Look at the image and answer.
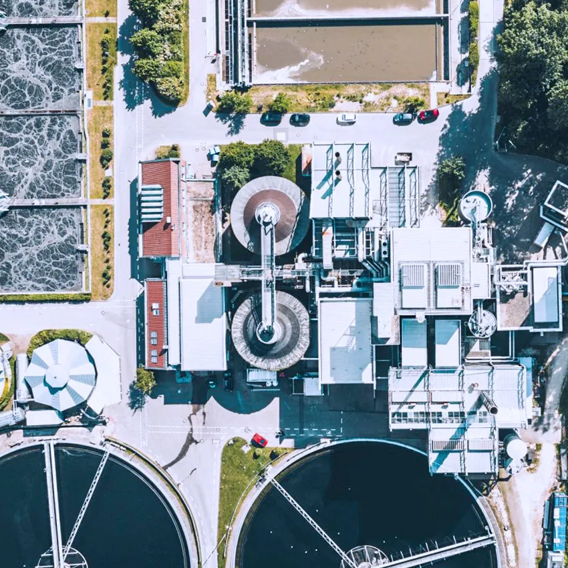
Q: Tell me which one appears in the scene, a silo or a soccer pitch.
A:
silo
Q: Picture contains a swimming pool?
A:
No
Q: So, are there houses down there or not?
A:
Yes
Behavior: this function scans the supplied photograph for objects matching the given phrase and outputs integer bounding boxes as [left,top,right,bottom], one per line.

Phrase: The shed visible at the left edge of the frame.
[26,409,69,425]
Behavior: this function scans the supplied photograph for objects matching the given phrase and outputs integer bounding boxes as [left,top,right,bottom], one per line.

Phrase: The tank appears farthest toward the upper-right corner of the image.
[455,190,493,230]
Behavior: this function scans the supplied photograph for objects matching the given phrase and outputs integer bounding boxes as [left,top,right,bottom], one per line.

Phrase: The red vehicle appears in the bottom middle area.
[251,434,268,448]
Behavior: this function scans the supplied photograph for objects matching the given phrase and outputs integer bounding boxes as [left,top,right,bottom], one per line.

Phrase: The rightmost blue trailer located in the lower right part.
[550,491,567,552]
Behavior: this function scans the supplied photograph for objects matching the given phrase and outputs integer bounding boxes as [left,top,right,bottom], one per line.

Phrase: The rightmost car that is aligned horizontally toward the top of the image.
[417,110,439,122]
